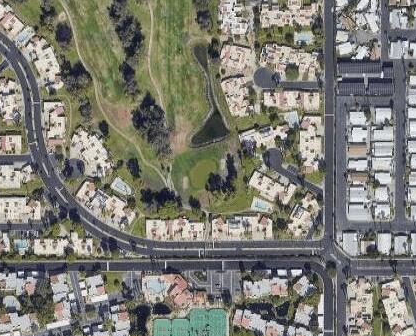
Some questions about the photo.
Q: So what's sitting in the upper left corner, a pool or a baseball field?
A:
pool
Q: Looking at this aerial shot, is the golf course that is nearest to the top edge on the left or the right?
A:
left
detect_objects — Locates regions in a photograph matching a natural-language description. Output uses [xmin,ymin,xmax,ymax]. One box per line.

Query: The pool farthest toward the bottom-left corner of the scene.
[3,294,18,309]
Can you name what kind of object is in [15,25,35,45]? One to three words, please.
swimming pool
